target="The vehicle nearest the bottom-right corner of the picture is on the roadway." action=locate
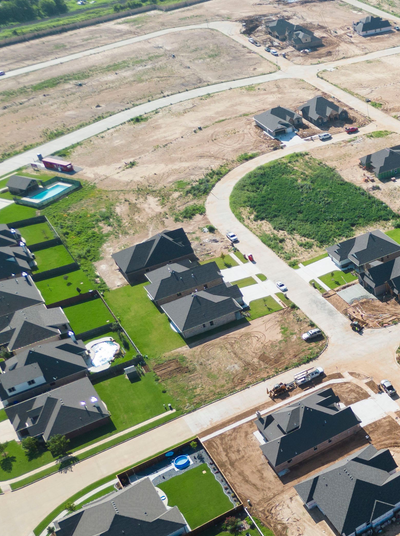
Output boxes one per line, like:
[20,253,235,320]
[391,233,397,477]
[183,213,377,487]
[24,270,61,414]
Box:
[380,379,397,397]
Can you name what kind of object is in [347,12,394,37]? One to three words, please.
house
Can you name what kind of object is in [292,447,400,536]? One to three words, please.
house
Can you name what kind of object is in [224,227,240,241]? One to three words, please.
vehicle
